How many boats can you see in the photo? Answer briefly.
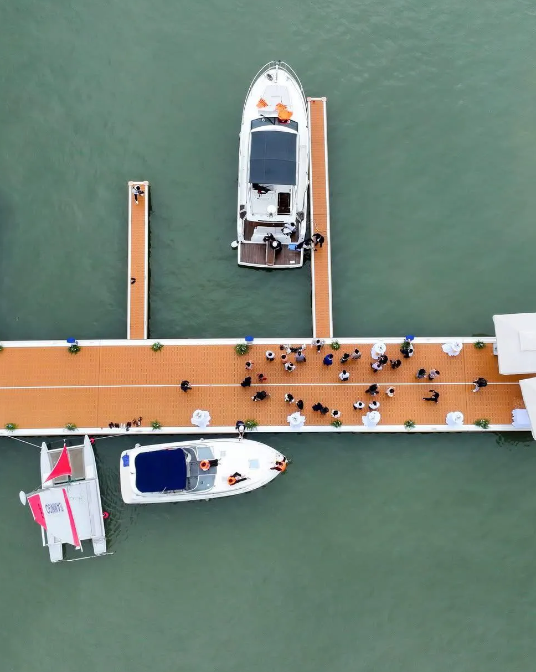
three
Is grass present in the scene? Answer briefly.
No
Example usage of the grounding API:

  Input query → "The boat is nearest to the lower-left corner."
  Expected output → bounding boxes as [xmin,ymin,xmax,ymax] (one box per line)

[22,434,115,565]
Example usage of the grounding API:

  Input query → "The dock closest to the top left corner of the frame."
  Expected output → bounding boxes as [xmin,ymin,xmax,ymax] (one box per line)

[125,180,154,339]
